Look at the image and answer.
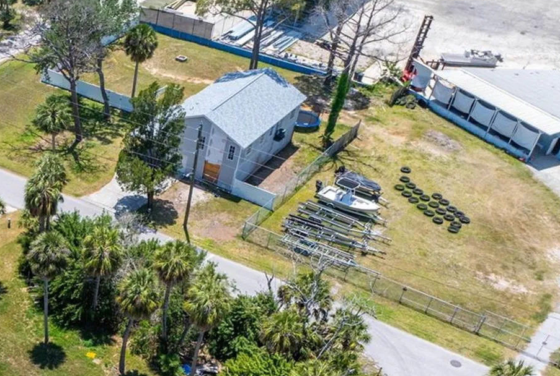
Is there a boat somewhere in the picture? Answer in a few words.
Yes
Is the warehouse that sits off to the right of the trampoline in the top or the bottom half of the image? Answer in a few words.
top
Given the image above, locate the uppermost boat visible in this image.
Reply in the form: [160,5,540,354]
[440,50,504,67]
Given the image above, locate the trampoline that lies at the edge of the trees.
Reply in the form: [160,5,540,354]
[296,113,324,130]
